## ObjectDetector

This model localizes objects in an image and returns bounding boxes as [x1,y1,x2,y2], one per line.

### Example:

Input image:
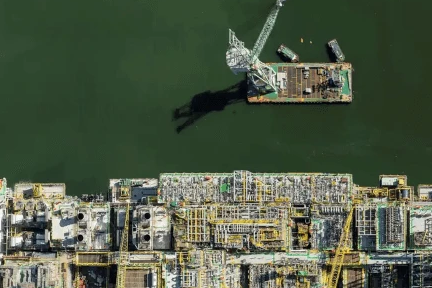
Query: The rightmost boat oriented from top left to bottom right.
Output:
[327,38,346,62]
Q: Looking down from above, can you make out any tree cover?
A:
No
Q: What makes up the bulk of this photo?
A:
water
